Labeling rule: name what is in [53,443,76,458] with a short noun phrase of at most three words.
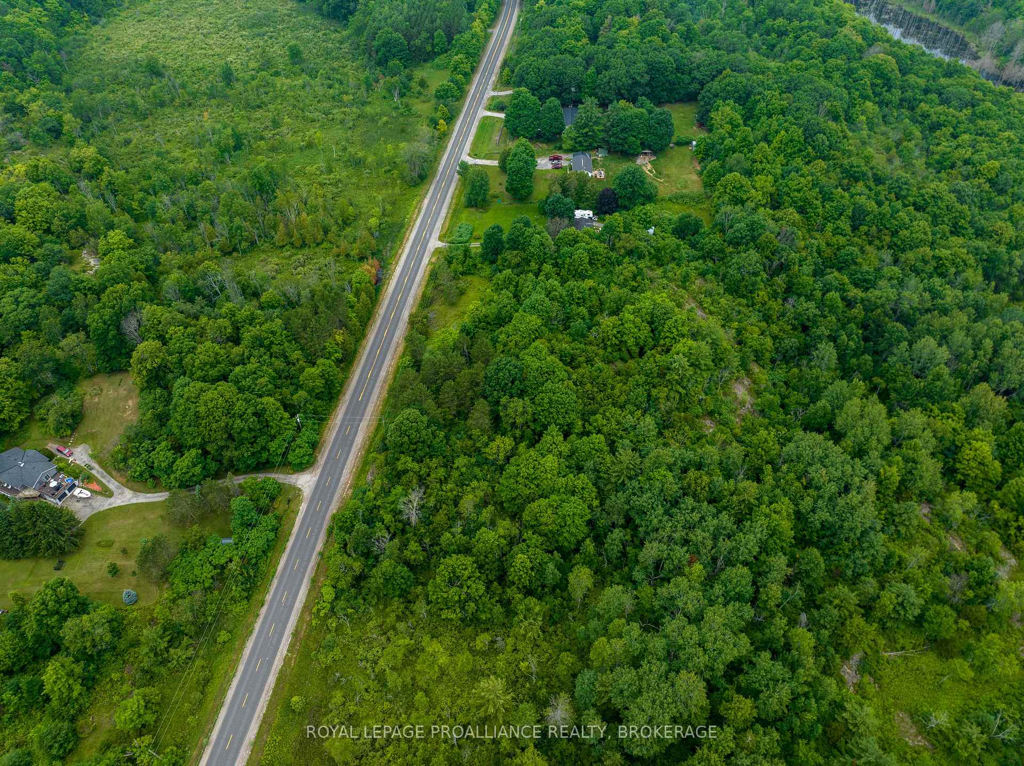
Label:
car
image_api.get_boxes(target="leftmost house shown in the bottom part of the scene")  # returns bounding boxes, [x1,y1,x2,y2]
[0,447,87,505]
